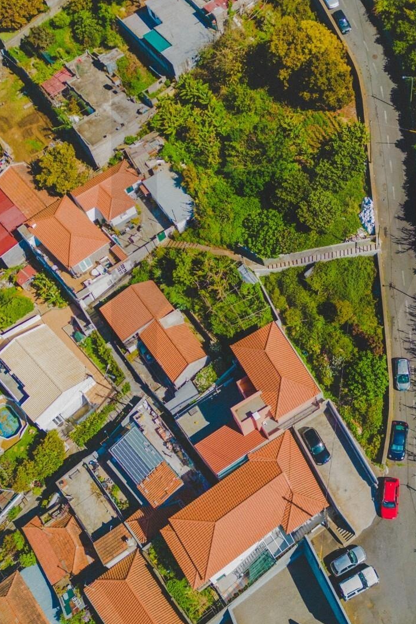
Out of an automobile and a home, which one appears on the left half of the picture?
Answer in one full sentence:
There is a home on the left half of the picture.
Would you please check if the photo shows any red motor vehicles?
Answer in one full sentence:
Yes, there's a red motor vehicle here.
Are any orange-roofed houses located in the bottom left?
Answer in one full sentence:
Yes, in the bottom left there is an orange-roofed house.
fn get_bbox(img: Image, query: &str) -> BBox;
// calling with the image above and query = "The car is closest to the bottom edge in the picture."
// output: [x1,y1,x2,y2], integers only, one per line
[338,570,380,605]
